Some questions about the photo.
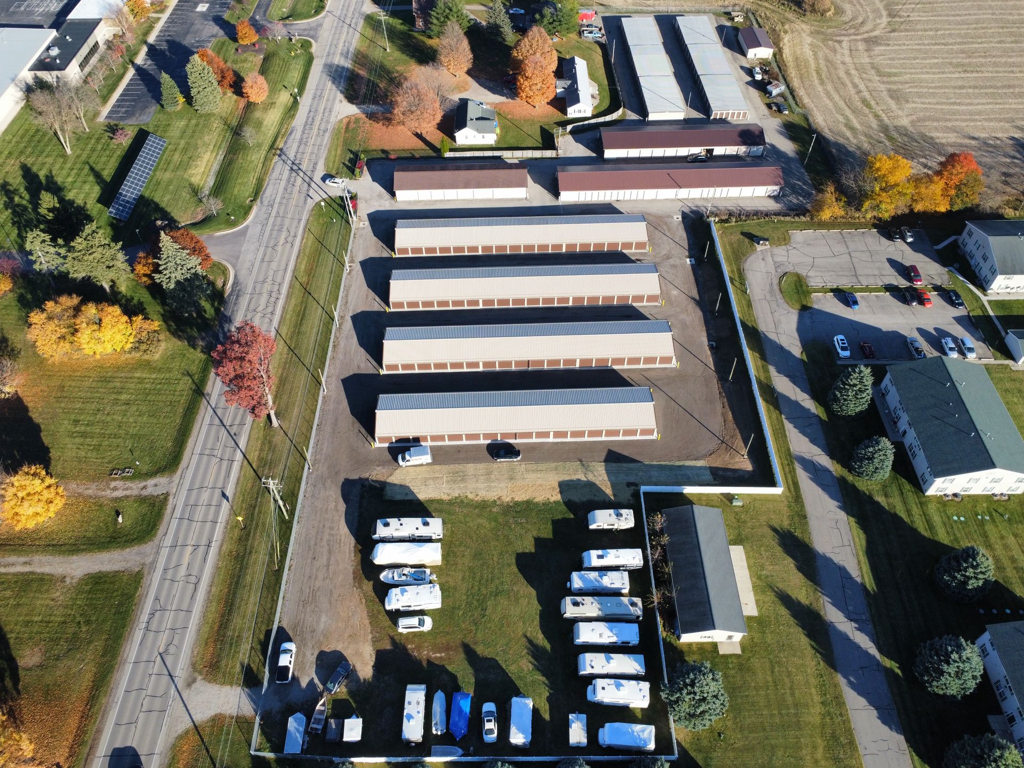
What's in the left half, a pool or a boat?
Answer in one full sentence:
The feature located in the left half is a boat.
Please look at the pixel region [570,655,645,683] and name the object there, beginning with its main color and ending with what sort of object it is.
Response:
white vehicle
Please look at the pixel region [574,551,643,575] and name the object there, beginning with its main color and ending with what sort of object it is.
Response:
white vehicle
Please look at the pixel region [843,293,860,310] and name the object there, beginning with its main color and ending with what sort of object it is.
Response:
blue car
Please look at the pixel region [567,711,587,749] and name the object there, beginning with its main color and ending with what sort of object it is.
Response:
white camper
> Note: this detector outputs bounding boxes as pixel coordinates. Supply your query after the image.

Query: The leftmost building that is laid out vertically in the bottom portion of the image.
[661,505,747,642]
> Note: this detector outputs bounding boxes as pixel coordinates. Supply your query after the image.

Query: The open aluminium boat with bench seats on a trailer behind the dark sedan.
[309,695,327,732]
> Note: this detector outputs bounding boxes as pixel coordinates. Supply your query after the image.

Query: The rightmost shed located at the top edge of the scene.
[737,25,774,59]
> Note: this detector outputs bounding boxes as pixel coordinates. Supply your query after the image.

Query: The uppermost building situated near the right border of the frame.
[958,222,1024,292]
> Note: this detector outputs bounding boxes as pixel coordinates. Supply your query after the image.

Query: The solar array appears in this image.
[108,133,166,221]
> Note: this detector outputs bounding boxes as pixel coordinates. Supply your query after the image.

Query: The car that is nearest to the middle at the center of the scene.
[493,448,521,462]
